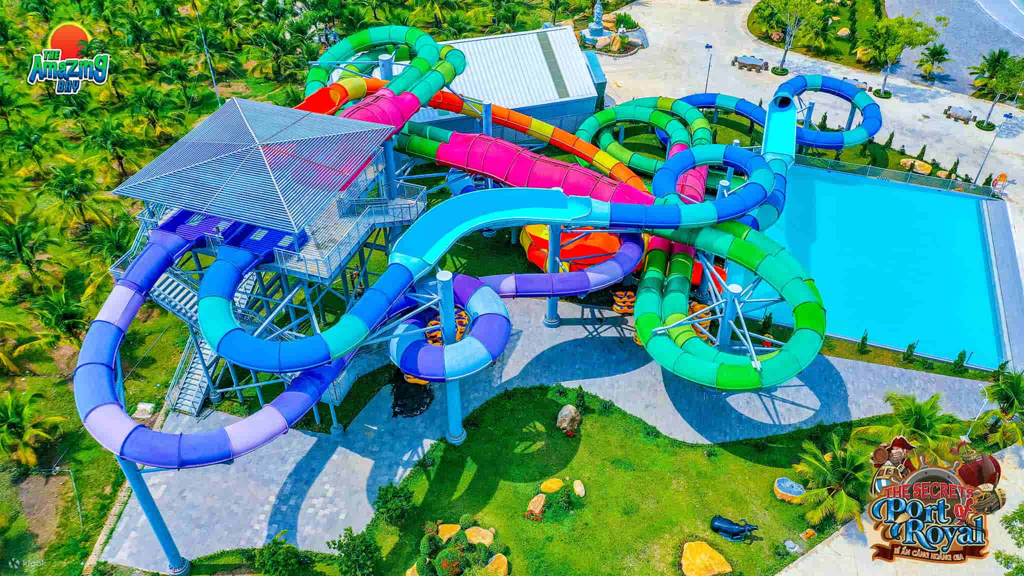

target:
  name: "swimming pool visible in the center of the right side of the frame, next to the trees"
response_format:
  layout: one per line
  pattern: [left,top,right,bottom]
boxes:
[761,162,1023,386]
